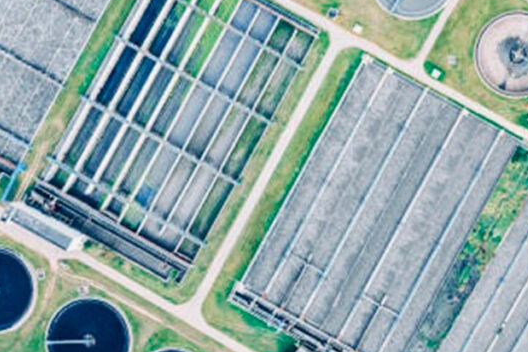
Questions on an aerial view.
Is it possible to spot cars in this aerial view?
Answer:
No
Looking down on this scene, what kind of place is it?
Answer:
industrial area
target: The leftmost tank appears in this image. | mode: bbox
[0,246,37,332]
